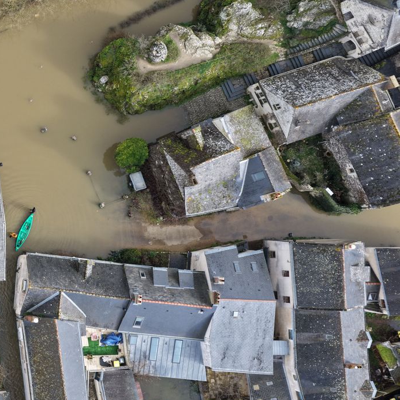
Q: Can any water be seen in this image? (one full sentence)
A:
Yes, some water is visible.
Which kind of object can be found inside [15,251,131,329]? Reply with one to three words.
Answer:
house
